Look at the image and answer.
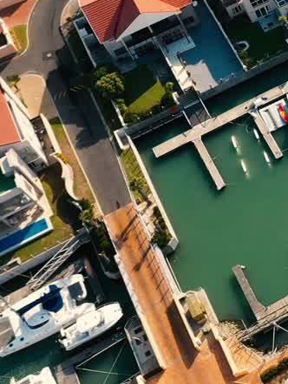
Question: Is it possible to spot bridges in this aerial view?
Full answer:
Yes, there is a bridge in the image.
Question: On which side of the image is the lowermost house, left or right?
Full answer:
The lowermost house is on the left side of the image.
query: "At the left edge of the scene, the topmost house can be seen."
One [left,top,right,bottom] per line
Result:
[0,85,61,202]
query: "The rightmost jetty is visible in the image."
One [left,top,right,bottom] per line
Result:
[262,100,288,132]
